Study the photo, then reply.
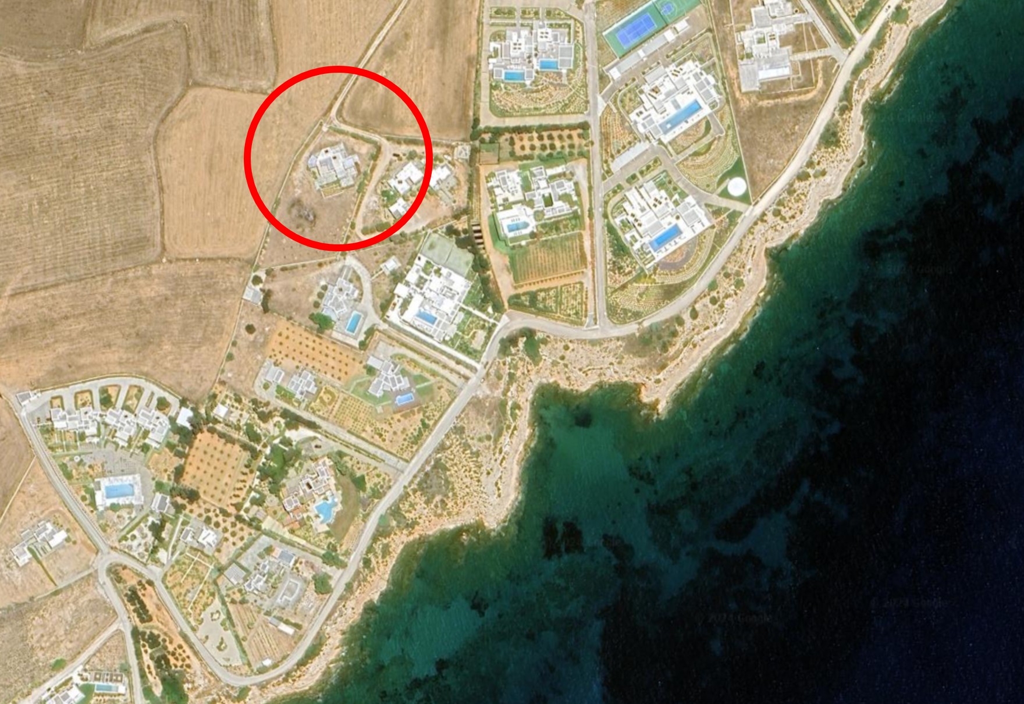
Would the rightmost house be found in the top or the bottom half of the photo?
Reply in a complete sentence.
The rightmost house sits in the top half of the picture.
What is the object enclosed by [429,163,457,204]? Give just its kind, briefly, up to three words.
house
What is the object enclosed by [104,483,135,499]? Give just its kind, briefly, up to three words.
swimming pool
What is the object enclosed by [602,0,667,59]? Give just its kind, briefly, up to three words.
tennis court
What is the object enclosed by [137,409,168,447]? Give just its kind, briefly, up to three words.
house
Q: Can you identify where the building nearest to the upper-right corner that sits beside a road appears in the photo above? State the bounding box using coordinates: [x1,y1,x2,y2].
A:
[736,0,802,92]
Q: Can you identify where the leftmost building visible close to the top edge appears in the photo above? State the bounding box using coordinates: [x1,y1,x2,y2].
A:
[489,27,534,84]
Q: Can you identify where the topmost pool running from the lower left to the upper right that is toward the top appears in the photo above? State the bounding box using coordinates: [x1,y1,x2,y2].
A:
[658,99,703,135]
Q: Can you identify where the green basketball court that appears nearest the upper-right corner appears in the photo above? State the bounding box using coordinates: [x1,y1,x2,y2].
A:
[653,0,702,25]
